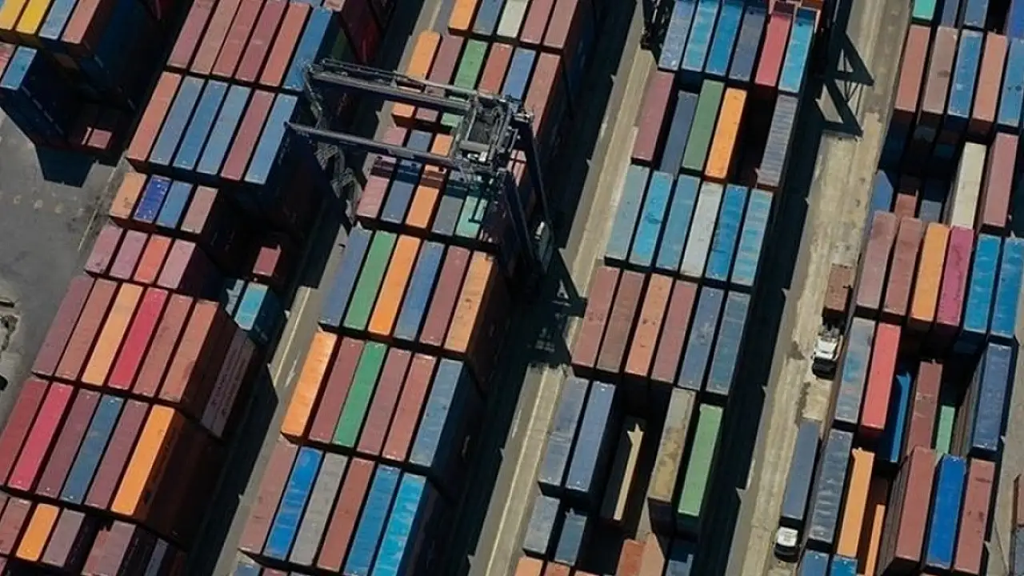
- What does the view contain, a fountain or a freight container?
freight container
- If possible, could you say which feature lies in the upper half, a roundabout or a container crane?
container crane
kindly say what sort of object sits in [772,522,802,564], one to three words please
truck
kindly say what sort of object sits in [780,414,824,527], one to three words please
shipping container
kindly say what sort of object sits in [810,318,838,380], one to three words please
truck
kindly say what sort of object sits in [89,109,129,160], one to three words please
shipping container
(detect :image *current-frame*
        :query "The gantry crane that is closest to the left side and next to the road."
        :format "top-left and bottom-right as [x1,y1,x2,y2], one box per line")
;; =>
[287,61,556,278]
